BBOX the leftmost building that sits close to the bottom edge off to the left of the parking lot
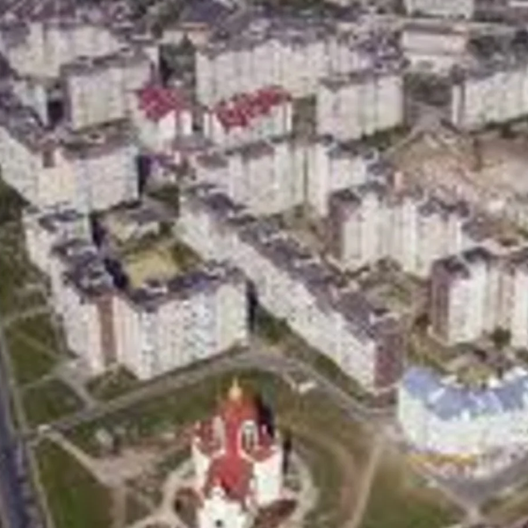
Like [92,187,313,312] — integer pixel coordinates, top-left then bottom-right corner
[185,372,287,528]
